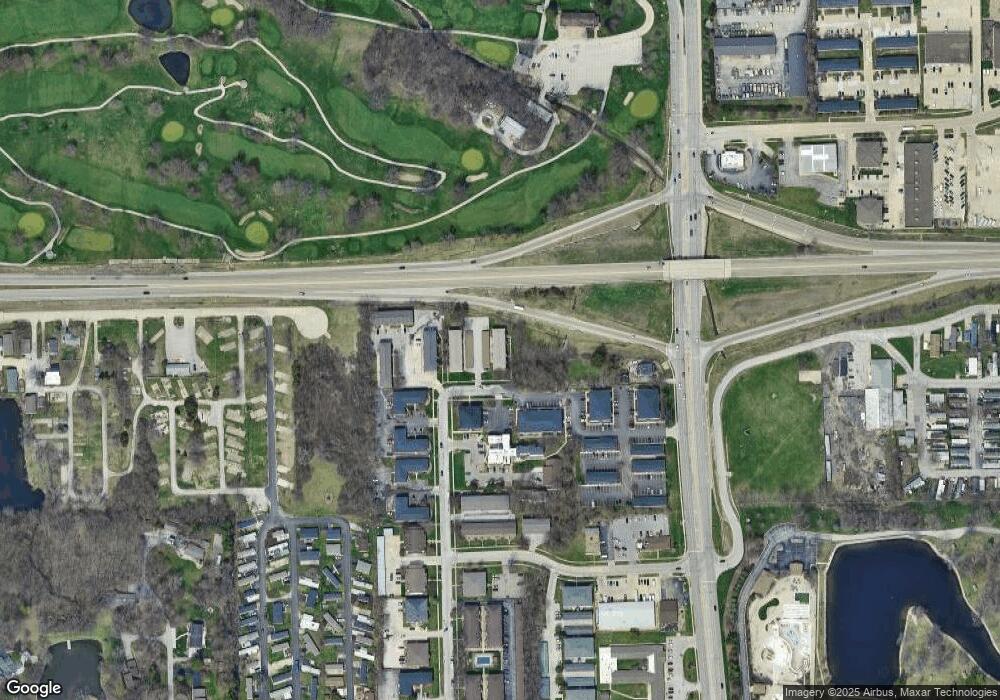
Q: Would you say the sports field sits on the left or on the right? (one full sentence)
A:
You can find the sports field on the right side of the picture.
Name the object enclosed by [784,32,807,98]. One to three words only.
building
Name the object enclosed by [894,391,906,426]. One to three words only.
shed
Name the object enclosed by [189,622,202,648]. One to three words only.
house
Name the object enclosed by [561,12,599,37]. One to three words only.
building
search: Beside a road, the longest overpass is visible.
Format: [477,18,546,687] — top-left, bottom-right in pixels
[663,259,732,280]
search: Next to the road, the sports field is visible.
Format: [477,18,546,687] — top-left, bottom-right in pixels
[723,350,827,494]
